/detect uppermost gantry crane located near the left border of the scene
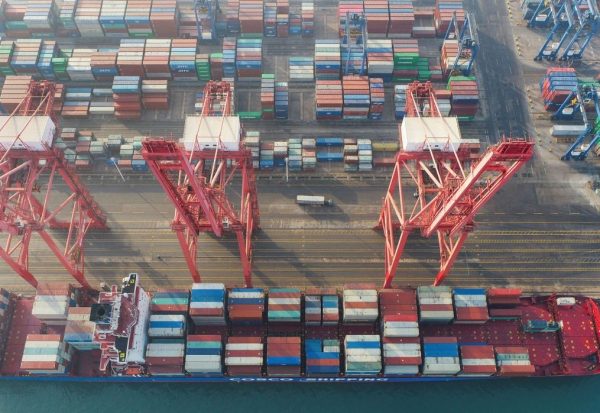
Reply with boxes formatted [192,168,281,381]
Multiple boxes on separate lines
[0,77,114,292]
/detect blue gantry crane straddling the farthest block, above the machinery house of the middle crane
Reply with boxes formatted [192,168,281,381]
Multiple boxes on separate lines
[197,0,226,40]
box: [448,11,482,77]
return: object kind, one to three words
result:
container crane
